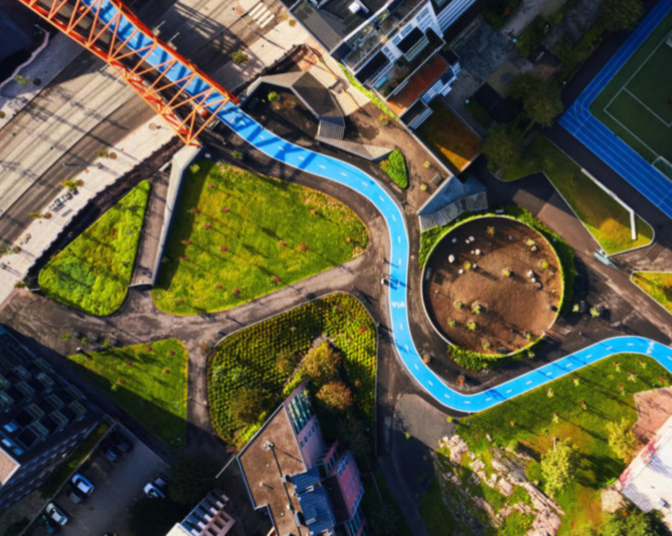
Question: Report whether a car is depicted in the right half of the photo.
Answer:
No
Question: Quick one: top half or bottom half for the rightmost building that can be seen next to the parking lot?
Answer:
bottom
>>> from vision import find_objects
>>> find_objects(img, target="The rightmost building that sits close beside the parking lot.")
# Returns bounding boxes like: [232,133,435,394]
[237,381,376,536]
